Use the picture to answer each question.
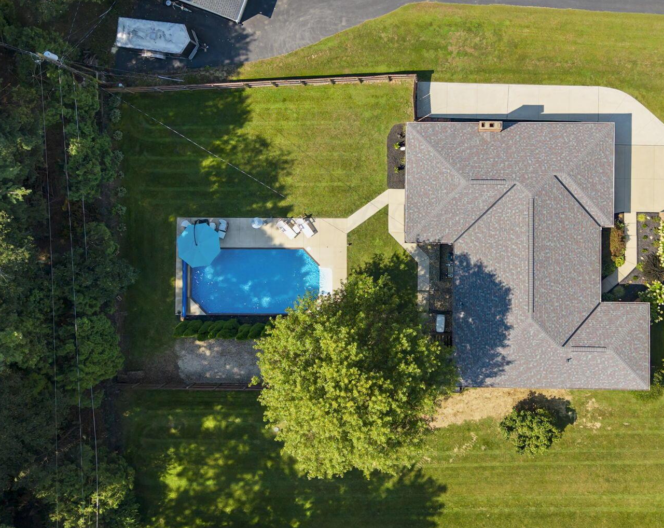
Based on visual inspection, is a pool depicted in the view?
Yes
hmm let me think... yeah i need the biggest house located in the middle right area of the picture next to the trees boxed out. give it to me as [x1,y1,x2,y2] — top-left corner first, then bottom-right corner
[404,120,652,392]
